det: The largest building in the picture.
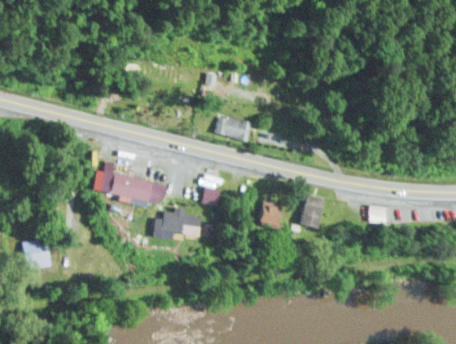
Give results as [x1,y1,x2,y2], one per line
[93,162,166,208]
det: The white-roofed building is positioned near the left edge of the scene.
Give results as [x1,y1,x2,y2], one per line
[22,241,54,273]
